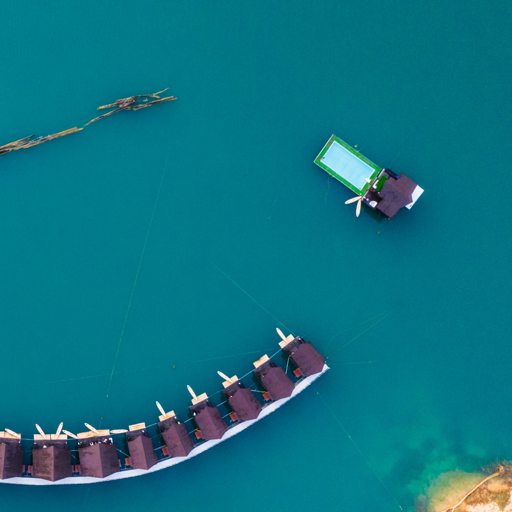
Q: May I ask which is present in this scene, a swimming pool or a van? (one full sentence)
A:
There is a swimming pool in the scene.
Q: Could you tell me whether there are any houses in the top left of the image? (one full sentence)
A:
No, in the top left of the image there is no house.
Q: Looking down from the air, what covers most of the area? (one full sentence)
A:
For the most part, this view shows water.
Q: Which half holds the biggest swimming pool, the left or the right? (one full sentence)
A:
The biggest swimming pool appears in the right half of the scene.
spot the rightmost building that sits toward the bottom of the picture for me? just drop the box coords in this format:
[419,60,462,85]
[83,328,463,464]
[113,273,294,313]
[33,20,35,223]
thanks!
[278,334,323,381]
